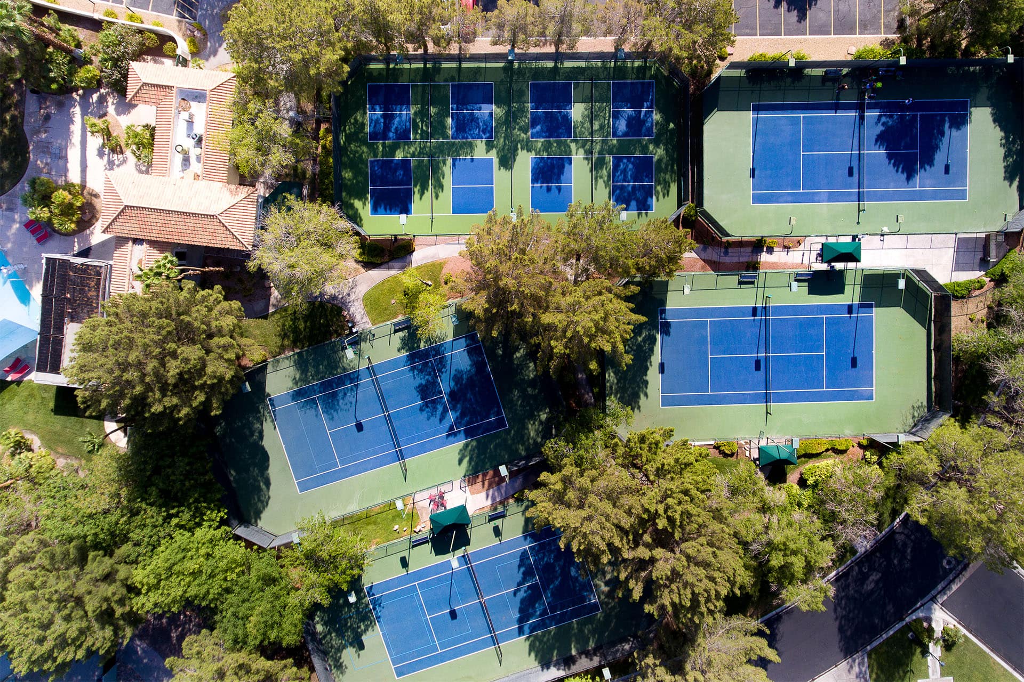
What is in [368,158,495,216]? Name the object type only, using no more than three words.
sports court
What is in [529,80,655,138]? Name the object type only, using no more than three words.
sports court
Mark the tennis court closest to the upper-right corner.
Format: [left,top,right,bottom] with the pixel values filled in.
[695,68,1019,237]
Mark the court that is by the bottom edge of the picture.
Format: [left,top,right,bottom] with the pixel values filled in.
[309,483,657,682]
